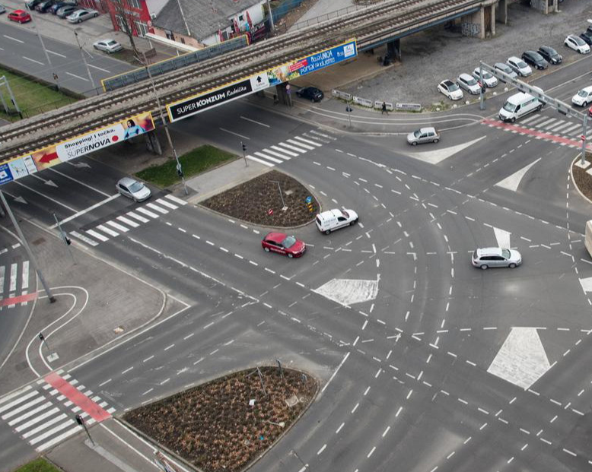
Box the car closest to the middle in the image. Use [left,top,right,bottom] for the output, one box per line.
[264,234,306,258]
